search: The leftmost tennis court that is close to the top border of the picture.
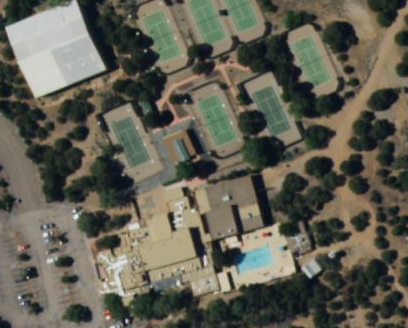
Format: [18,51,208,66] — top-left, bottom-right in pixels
[136,0,188,72]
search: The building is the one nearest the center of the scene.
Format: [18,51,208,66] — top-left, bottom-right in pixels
[162,130,198,163]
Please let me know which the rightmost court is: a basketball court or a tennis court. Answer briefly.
tennis court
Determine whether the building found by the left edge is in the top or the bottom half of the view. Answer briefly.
top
